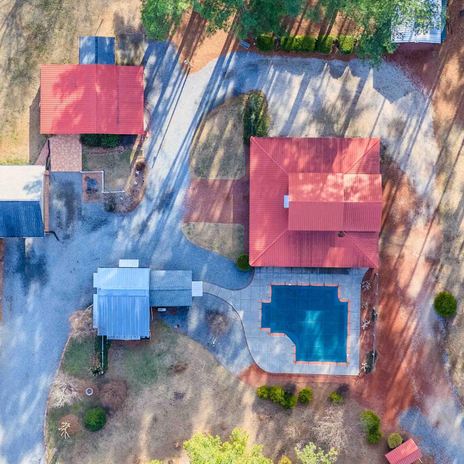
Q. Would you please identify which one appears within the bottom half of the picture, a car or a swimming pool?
swimming pool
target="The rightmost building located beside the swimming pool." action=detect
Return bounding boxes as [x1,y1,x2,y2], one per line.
[250,136,384,268]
